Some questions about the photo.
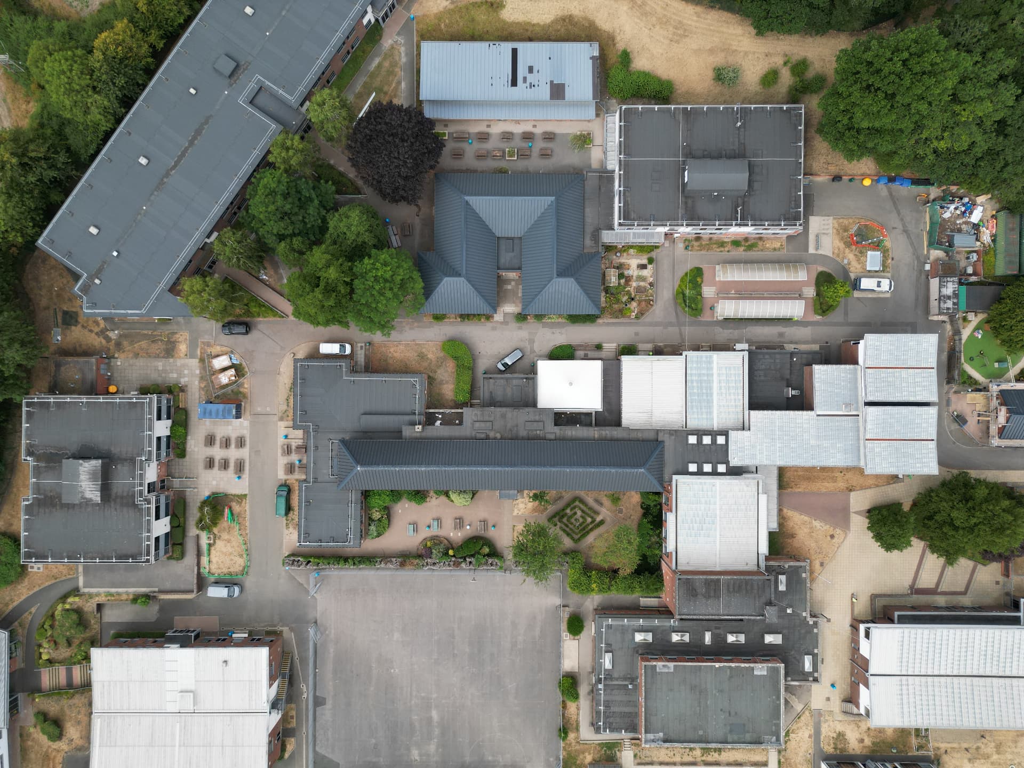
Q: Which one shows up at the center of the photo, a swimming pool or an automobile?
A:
automobile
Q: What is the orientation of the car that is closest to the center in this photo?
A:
at an angle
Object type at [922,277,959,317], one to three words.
shed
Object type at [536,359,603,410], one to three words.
building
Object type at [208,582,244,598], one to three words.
vehicle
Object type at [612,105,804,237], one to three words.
building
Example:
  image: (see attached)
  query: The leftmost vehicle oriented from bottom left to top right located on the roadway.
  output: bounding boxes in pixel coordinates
[495,346,524,373]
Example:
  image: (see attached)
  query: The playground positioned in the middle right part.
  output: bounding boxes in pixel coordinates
[965,328,1024,378]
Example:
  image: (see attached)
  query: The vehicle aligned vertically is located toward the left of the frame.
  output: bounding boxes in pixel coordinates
[276,483,291,516]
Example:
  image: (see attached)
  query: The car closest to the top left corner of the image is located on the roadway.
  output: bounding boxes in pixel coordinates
[224,321,251,336]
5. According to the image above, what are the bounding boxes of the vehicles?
[850,277,889,293]
[276,483,291,516]
[224,321,251,336]
[495,346,524,373]
[208,582,244,598]
[319,341,352,356]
